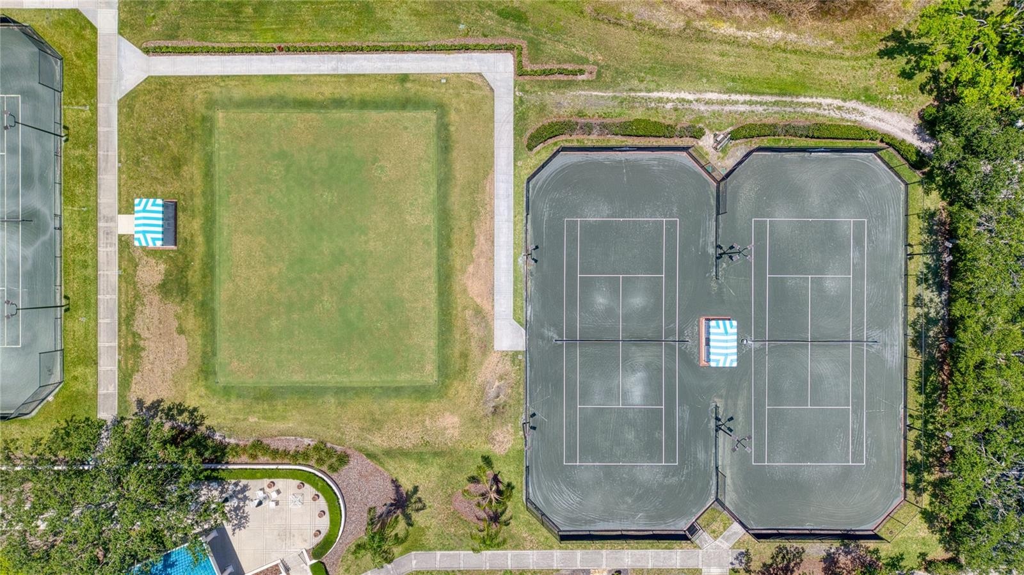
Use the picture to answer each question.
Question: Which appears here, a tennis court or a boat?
tennis court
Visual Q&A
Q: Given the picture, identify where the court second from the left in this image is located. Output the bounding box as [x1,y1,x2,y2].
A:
[527,152,716,530]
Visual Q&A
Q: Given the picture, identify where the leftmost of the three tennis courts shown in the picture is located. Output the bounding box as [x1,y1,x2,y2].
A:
[0,26,62,414]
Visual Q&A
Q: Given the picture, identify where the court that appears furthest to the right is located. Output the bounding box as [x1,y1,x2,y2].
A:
[717,152,905,531]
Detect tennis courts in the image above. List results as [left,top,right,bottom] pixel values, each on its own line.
[527,152,716,530]
[717,152,905,531]
[0,26,62,414]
